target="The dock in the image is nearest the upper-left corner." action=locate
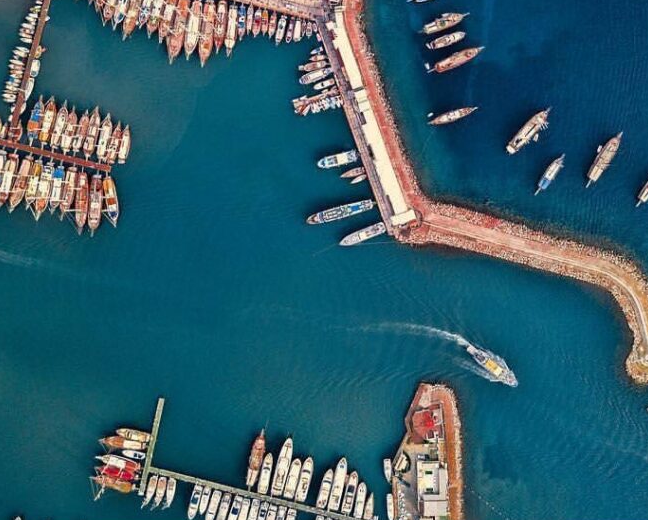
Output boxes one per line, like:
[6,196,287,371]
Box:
[8,0,50,143]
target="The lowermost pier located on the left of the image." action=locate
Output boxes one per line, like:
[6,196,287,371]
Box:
[150,466,356,520]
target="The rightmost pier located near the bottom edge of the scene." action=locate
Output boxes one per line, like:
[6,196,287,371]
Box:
[391,383,466,520]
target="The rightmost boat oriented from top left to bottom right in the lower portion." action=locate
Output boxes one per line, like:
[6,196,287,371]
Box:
[464,345,520,388]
